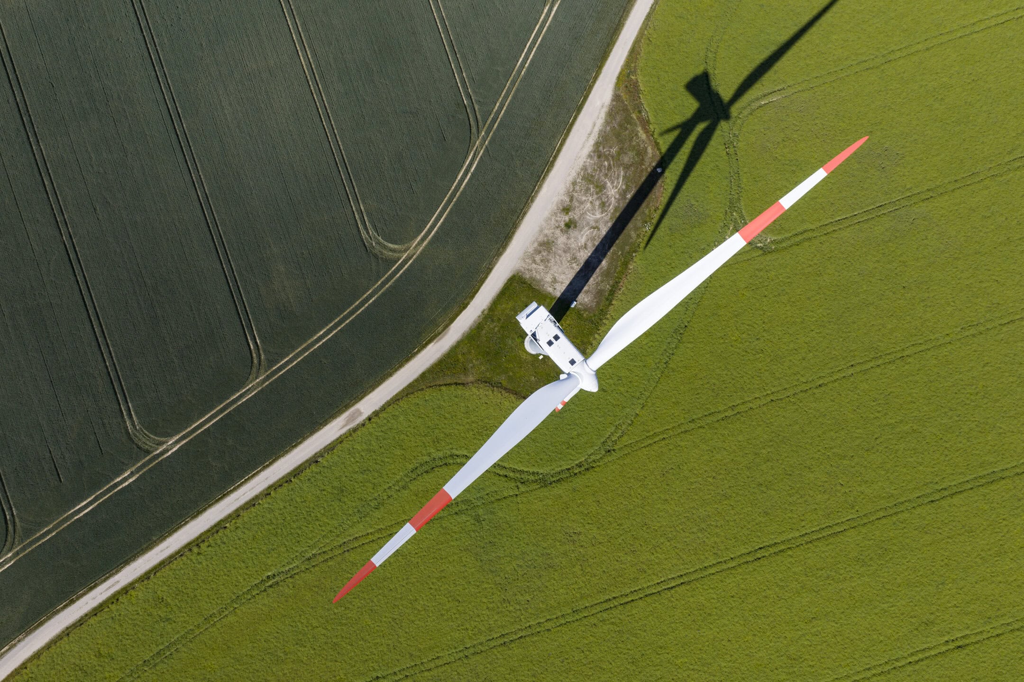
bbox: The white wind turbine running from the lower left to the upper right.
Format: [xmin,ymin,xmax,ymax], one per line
[333,137,868,603]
